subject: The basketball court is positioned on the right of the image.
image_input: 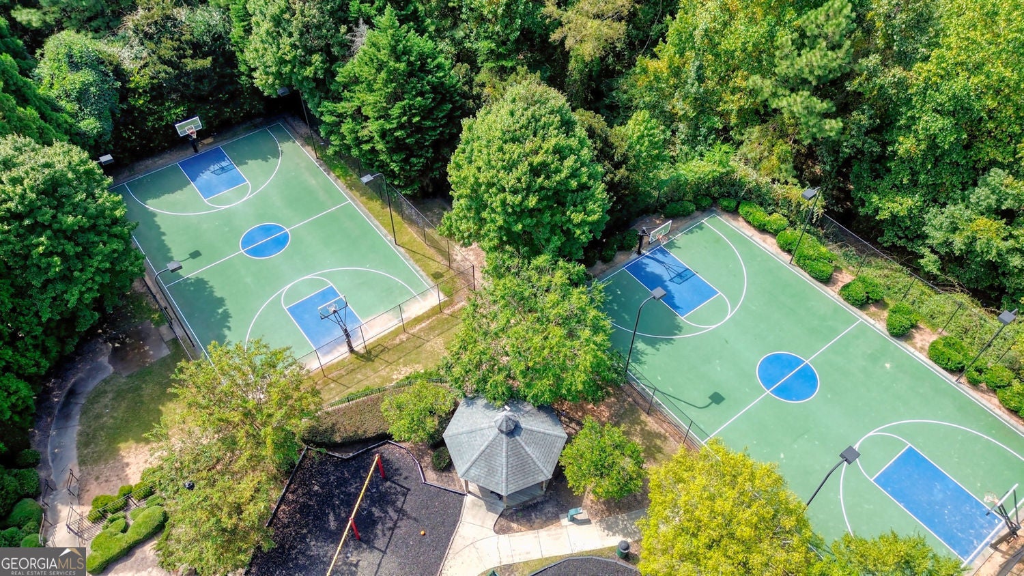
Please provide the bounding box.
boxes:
[552,206,1024,576]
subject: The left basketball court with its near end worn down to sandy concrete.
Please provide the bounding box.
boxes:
[123,116,452,415]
